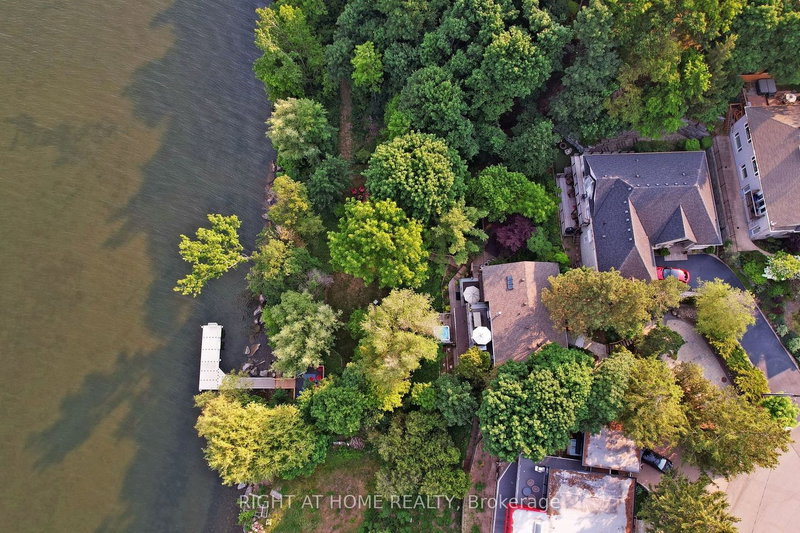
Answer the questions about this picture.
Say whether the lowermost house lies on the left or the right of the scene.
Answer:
right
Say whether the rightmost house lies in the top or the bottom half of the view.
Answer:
top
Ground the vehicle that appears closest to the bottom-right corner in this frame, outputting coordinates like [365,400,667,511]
[641,448,677,476]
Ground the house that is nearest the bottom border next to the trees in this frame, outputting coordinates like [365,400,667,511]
[505,469,637,533]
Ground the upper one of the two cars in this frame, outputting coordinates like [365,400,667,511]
[658,265,692,284]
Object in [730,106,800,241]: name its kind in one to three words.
house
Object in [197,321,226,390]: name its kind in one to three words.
pier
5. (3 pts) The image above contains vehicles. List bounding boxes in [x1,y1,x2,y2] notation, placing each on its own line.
[641,448,677,476]
[658,265,692,284]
